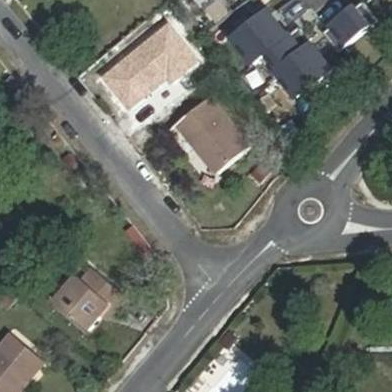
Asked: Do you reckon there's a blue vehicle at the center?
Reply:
No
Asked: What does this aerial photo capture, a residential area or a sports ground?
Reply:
residential area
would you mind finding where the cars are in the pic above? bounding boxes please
[68,78,88,98]
[135,104,156,122]
[136,162,154,182]
[163,197,180,214]
[2,19,22,39]
[62,121,80,139]
[282,2,304,20]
